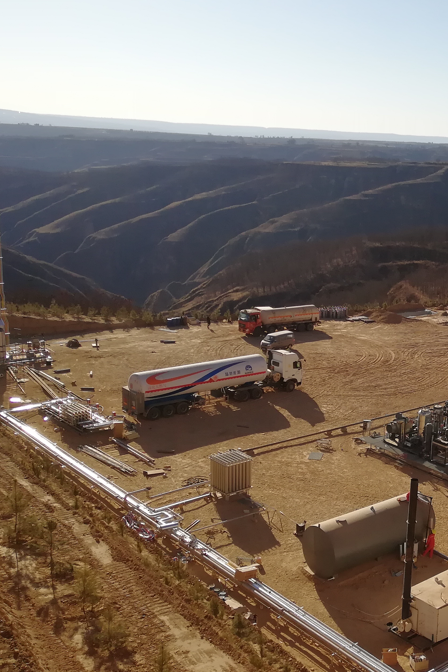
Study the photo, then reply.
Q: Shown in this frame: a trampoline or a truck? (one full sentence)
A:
The one in the frame is a truck.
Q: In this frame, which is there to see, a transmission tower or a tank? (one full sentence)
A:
Of the two, only a tank appears.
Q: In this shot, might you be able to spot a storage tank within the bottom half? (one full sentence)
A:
Yes, the scene does show a storage tank within the bottom half.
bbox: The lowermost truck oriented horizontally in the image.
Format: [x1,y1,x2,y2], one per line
[120,351,304,421]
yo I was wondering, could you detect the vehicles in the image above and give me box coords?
[257,330,295,351]
[238,303,319,337]
[120,351,304,421]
